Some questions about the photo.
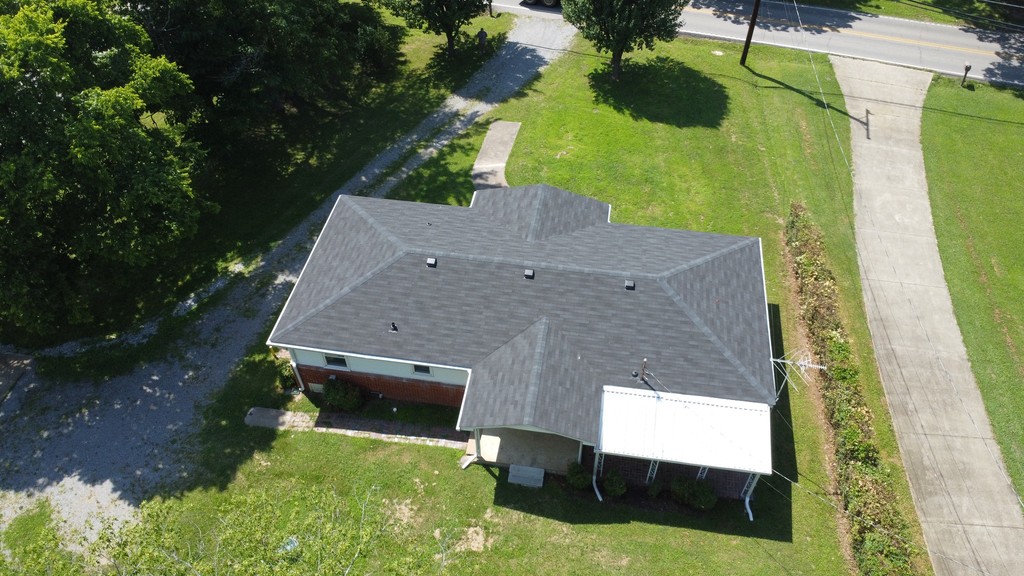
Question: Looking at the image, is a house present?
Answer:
Yes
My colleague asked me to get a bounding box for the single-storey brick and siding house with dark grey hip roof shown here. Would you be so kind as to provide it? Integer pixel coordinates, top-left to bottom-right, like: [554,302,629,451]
[265,181,778,520]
